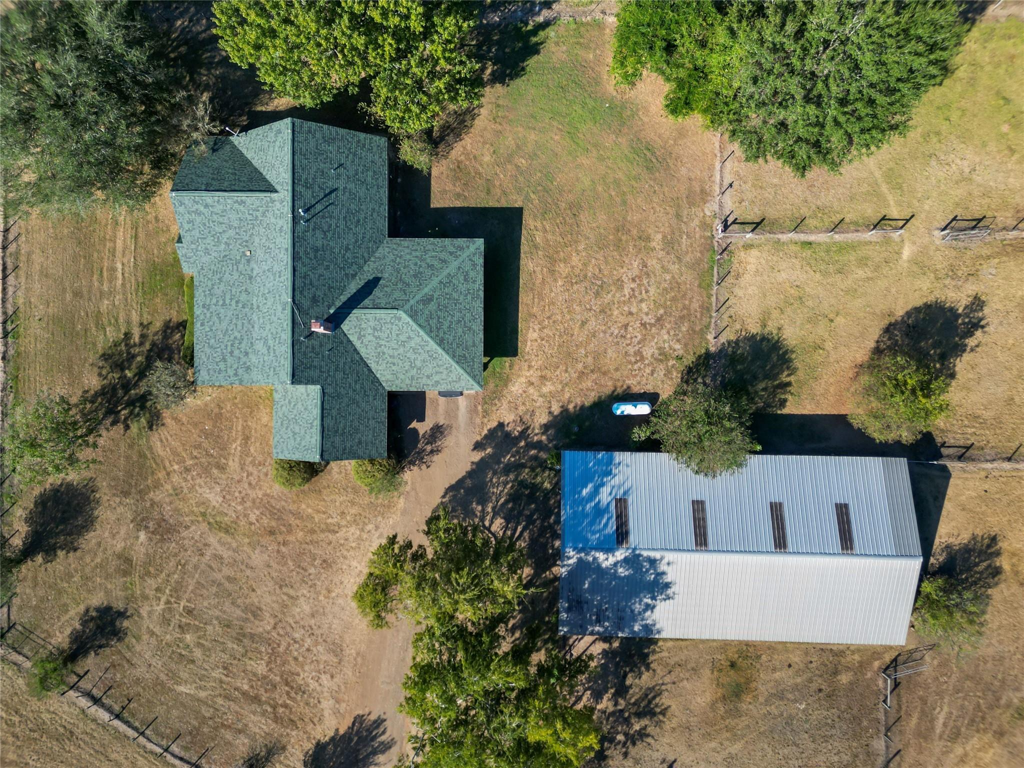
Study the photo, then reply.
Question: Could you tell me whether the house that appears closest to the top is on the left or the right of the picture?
left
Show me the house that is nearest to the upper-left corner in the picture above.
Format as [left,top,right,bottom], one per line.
[171,118,485,462]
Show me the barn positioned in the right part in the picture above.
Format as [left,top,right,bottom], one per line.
[556,450,924,644]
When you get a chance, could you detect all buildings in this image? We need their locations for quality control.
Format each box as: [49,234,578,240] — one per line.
[171,118,485,462]
[556,450,924,644]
